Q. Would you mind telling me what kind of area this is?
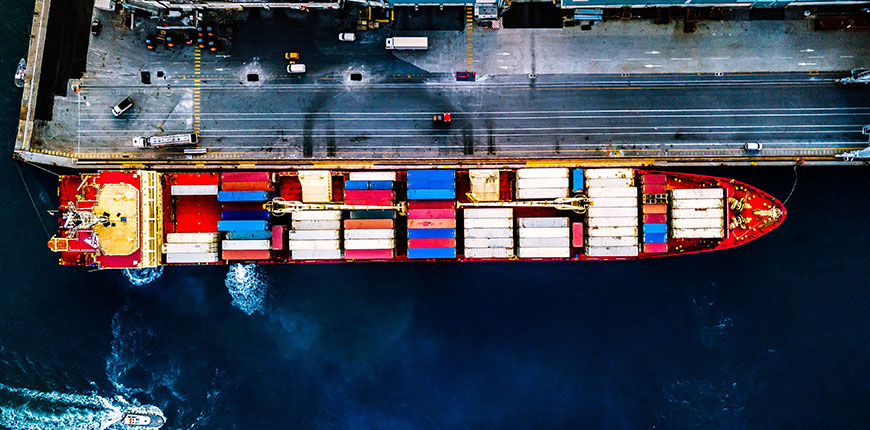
port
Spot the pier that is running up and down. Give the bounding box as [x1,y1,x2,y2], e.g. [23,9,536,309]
[15,0,51,149]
